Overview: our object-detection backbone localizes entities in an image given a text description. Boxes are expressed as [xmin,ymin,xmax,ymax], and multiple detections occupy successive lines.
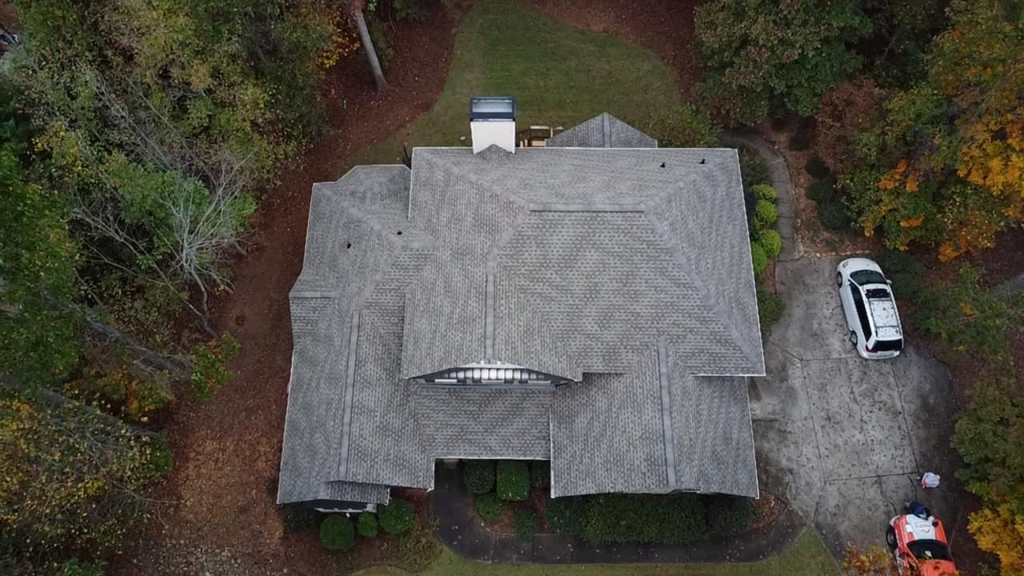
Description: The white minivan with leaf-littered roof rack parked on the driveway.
[838,257,905,358]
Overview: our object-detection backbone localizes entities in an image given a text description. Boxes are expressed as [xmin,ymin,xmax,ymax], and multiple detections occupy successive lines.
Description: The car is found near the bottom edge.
[885,510,960,576]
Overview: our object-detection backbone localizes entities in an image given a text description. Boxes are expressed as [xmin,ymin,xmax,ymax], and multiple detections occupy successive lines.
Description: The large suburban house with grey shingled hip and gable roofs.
[279,94,764,513]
